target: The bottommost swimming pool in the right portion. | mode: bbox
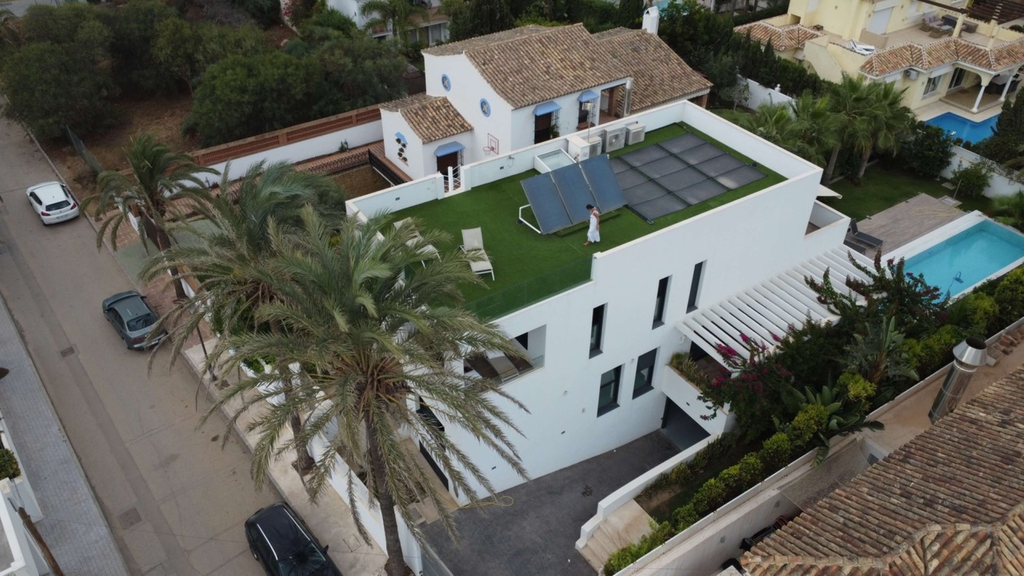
[873,209,1024,296]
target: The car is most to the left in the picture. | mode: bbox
[25,185,77,227]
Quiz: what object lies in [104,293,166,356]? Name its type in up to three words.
car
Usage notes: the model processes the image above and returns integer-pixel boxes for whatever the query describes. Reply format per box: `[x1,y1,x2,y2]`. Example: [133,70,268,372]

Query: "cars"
[25,185,77,227]
[104,293,166,356]
[248,503,350,576]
